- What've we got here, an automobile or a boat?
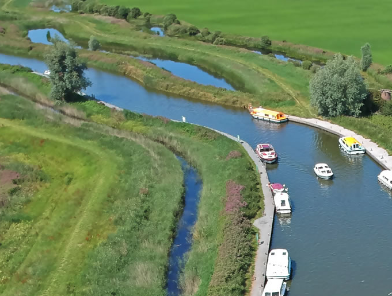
boat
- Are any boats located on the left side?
No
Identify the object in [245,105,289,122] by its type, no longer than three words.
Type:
boat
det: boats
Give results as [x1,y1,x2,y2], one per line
[273,191,294,218]
[253,139,281,165]
[311,159,332,182]
[262,244,295,285]
[337,133,366,155]
[262,272,289,296]
[245,105,289,122]
[271,179,285,196]
[371,167,392,192]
